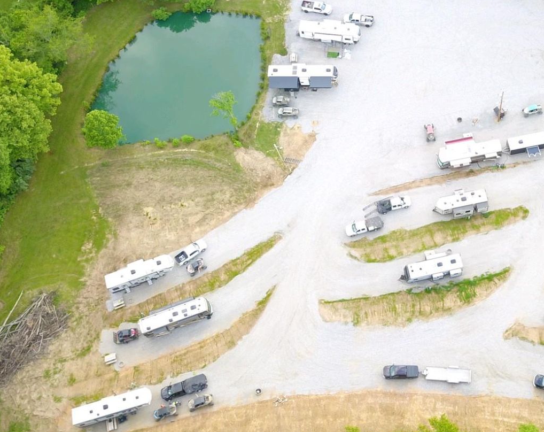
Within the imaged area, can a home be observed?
No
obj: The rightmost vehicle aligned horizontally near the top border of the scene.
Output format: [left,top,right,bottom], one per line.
[344,13,375,26]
